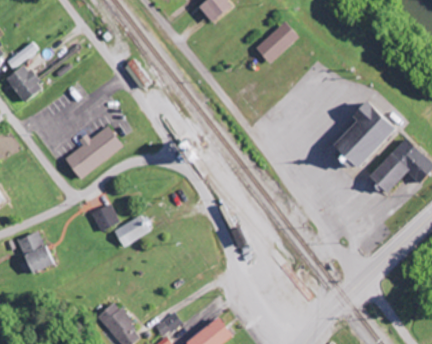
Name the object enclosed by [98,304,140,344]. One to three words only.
house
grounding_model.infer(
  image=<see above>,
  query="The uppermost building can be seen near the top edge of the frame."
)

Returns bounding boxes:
[200,0,234,24]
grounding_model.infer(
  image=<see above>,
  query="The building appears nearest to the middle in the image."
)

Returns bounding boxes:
[178,138,210,178]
